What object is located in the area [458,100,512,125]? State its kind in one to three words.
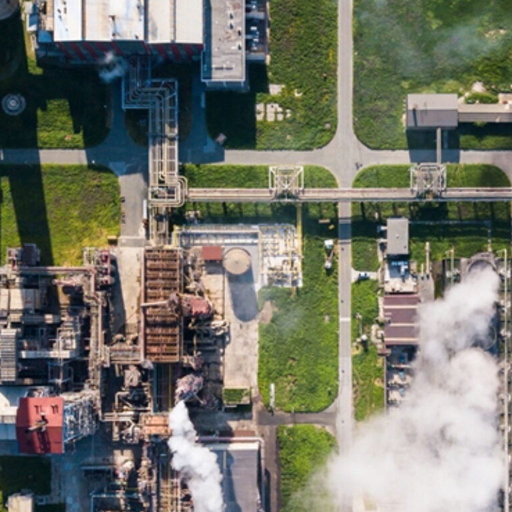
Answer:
building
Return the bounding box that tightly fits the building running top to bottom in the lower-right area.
[384,347,418,432]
